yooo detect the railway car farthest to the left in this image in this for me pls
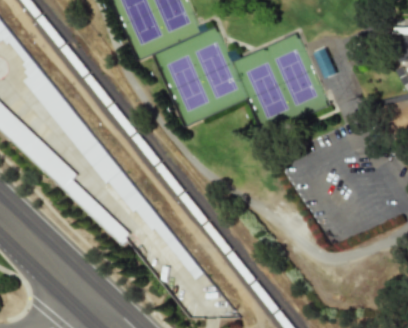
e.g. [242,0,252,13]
[20,0,41,18]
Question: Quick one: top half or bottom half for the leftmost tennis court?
top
